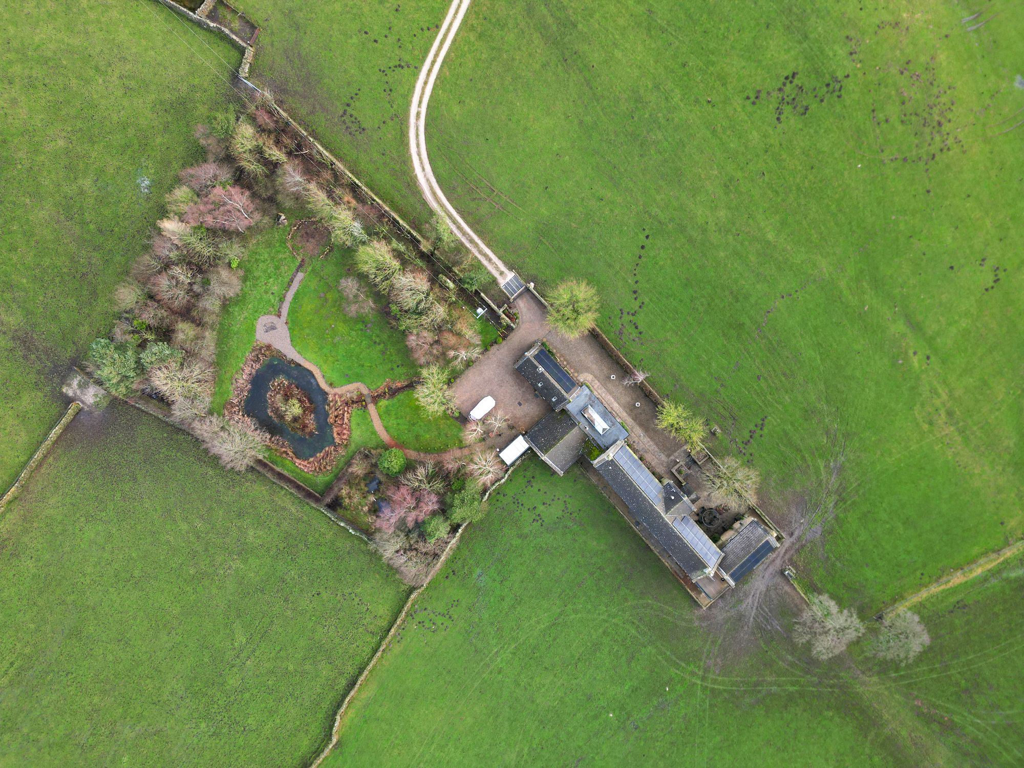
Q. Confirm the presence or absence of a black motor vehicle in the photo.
No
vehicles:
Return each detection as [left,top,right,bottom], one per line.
[467,394,497,422]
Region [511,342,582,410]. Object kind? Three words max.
house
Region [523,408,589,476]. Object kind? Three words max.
barn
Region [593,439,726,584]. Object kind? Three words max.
house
